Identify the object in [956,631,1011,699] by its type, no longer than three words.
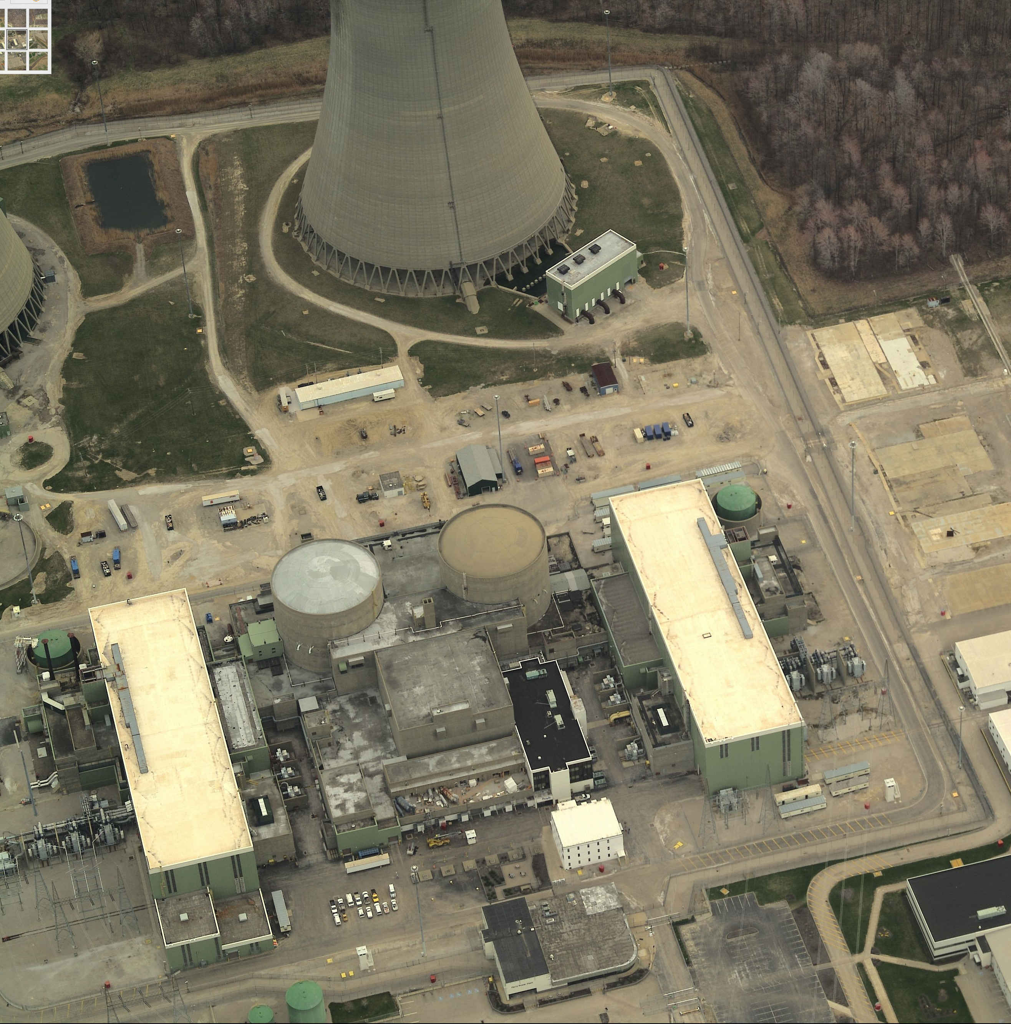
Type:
building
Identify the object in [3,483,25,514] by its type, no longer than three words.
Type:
shed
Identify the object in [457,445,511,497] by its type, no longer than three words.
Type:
barn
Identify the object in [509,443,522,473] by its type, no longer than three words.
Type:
vehicle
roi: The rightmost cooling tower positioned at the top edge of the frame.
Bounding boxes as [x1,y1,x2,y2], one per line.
[293,0,578,297]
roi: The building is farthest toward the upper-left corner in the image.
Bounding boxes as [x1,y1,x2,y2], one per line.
[34,264,62,288]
